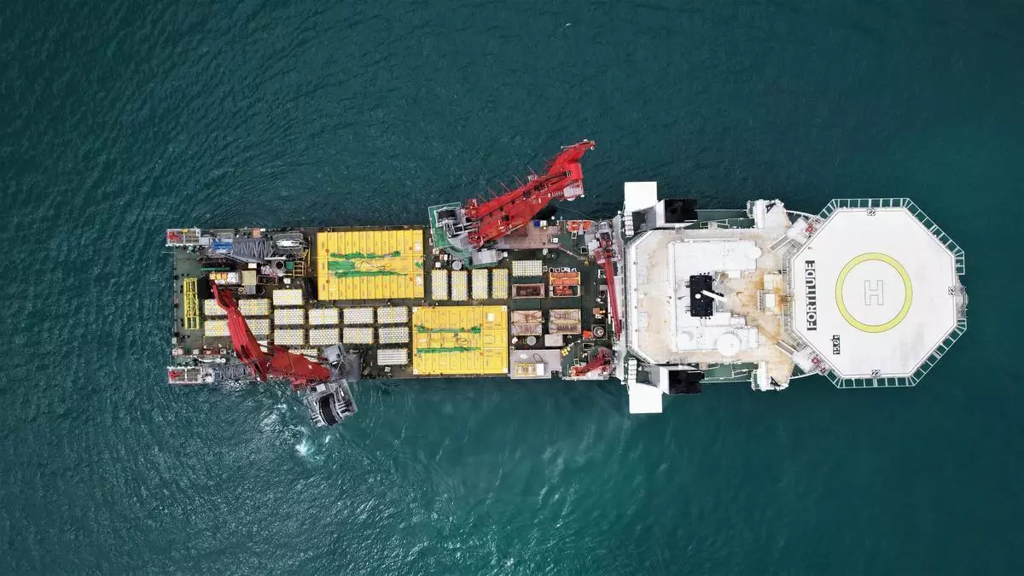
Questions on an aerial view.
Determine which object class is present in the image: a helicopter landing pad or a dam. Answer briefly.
helicopter landing pad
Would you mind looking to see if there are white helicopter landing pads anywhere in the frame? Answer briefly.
Yes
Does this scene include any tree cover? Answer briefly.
No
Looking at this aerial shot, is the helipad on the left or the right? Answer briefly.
right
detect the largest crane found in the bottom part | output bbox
[208,279,362,427]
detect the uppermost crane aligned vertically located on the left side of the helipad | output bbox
[586,220,621,341]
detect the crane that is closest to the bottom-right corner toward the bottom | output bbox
[569,348,612,378]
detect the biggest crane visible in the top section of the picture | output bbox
[428,138,596,266]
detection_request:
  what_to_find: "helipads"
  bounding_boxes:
[769,199,970,388]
